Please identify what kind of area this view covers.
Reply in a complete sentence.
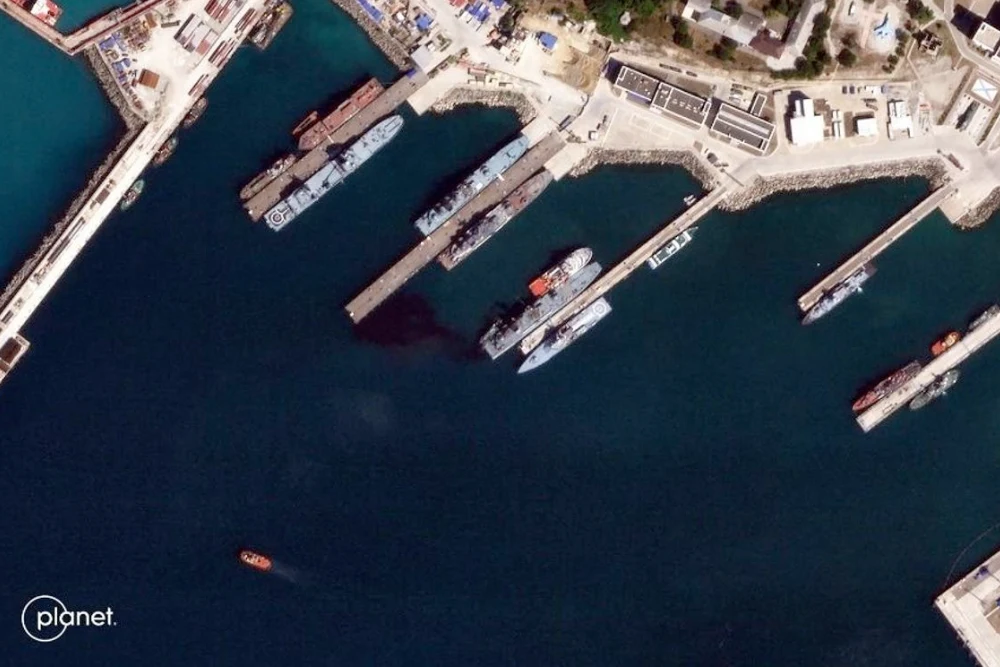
This looks like a port.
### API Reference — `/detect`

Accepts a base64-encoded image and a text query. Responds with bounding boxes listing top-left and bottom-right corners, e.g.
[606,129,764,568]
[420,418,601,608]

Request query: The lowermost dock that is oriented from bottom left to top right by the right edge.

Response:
[855,313,1000,433]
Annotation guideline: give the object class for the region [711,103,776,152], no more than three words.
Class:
building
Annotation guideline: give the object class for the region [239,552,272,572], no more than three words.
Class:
boat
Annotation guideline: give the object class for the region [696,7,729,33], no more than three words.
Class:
house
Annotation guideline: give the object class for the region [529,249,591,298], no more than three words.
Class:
ship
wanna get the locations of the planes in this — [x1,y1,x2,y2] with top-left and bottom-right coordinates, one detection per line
[877,19,893,38]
